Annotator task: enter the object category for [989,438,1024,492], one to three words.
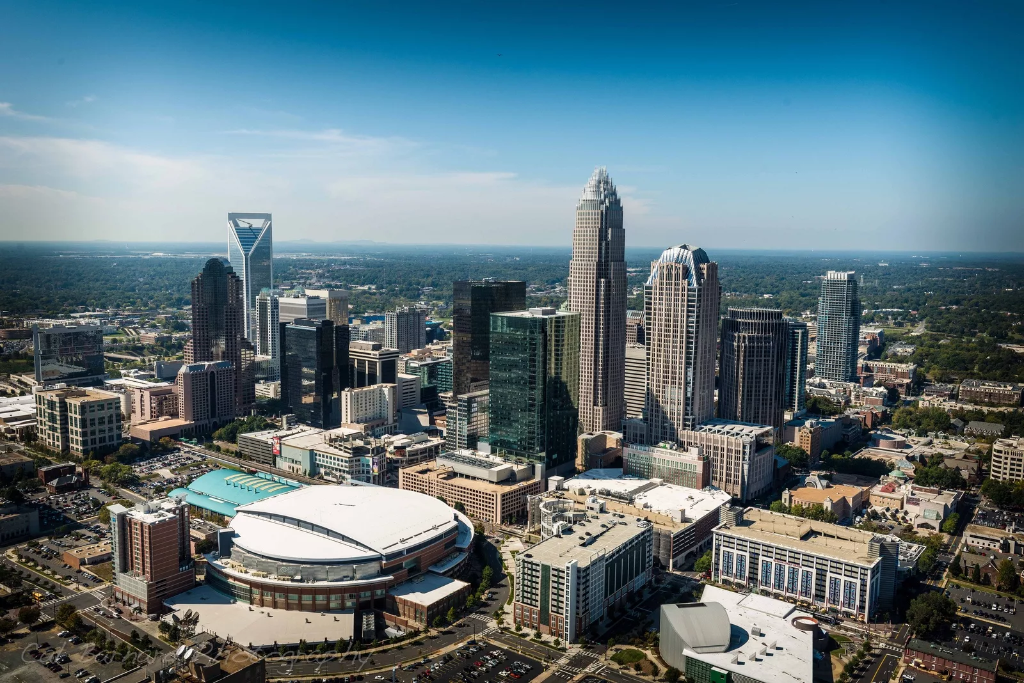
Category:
building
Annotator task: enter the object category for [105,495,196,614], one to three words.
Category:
building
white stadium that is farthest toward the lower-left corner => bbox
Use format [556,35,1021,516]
[200,486,476,622]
